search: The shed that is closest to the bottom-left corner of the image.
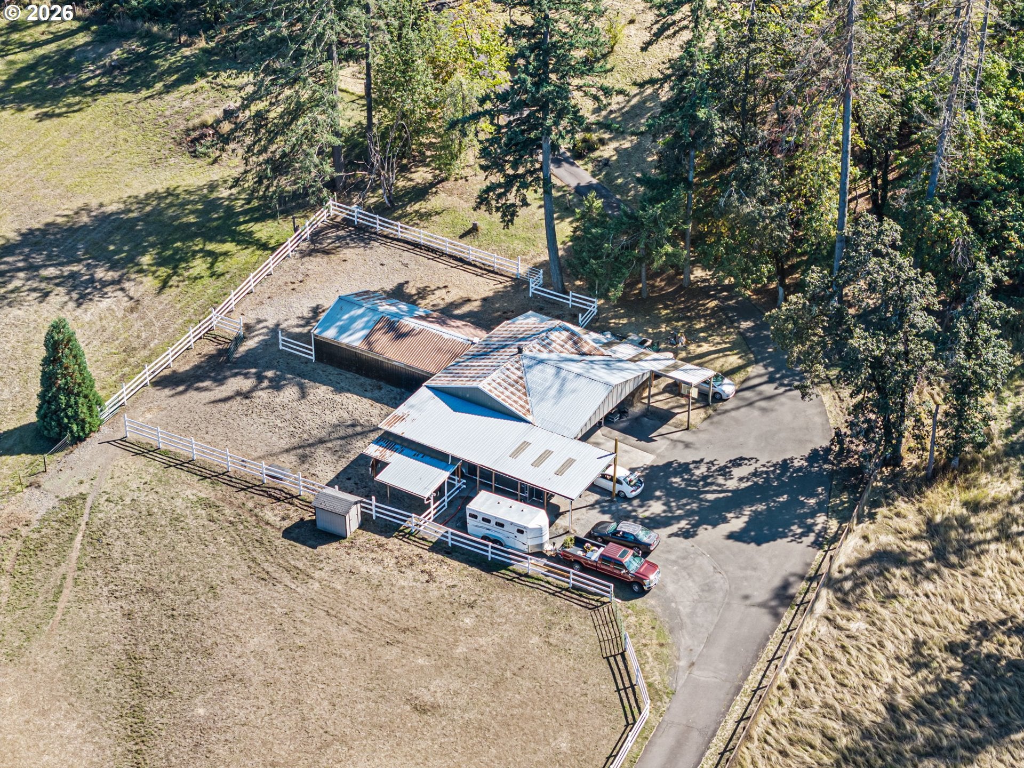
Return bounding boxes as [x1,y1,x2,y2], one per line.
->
[311,489,367,540]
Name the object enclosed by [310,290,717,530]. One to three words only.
barn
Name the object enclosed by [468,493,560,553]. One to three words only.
trailer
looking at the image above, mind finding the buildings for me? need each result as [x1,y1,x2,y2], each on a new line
[311,489,367,540]
[310,290,717,530]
